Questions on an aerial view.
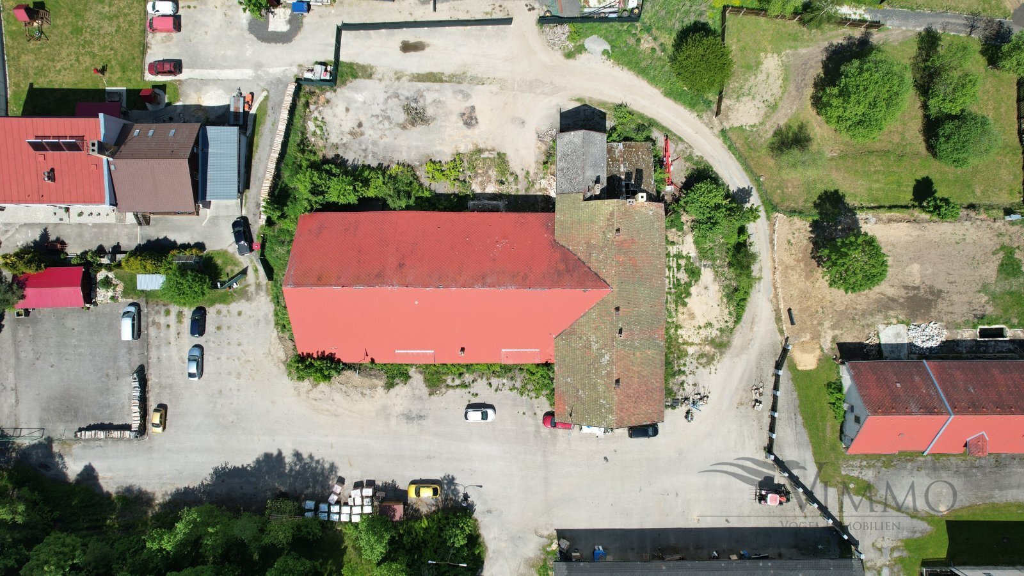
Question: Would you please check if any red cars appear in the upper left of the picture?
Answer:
Yes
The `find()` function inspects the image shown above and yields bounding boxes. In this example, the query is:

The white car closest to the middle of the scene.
[464,405,494,421]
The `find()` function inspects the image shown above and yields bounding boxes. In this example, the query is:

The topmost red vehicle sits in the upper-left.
[148,16,182,33]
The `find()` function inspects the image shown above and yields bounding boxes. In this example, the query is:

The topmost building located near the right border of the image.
[840,360,1024,459]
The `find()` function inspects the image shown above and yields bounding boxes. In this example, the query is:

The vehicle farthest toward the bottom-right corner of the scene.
[749,488,800,509]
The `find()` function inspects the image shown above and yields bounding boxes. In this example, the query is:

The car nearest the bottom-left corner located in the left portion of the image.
[151,403,168,431]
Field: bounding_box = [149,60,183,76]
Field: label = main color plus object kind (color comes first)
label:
red car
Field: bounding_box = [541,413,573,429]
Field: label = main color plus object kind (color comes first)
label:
red car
